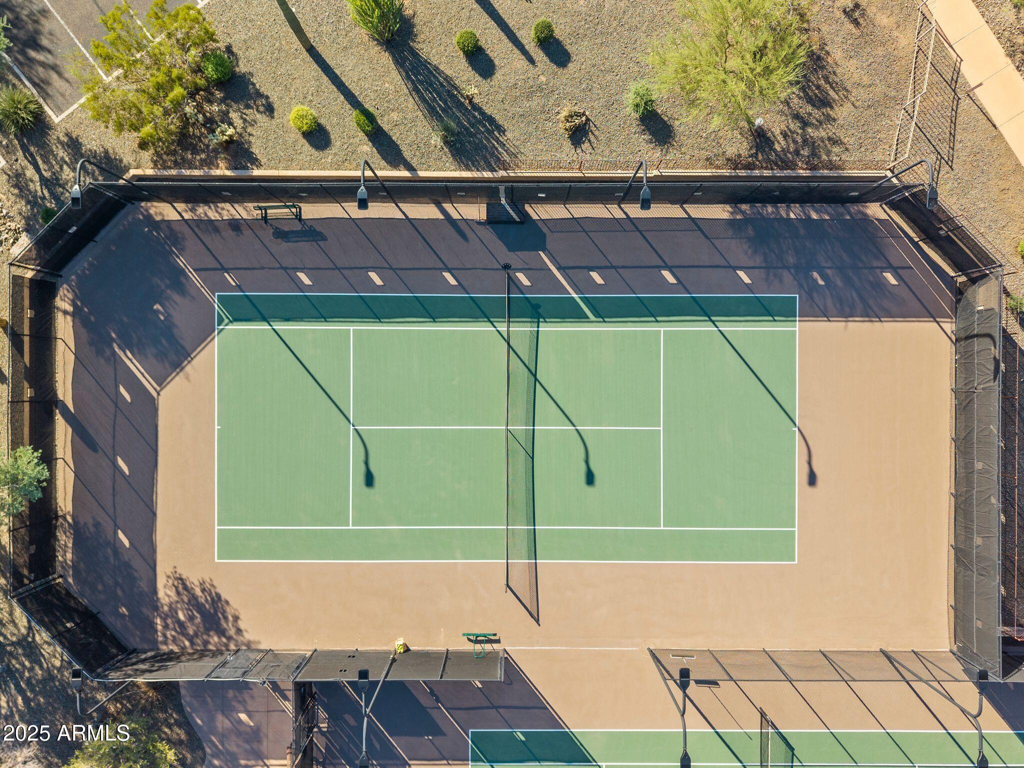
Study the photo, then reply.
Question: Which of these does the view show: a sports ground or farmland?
sports ground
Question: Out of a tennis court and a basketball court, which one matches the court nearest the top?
tennis court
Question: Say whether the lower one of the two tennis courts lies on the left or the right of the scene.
right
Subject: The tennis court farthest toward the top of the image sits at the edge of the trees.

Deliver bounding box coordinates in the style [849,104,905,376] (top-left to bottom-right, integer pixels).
[56,199,957,652]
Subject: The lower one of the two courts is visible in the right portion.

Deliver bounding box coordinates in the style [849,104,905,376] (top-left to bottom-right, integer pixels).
[313,649,1024,768]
